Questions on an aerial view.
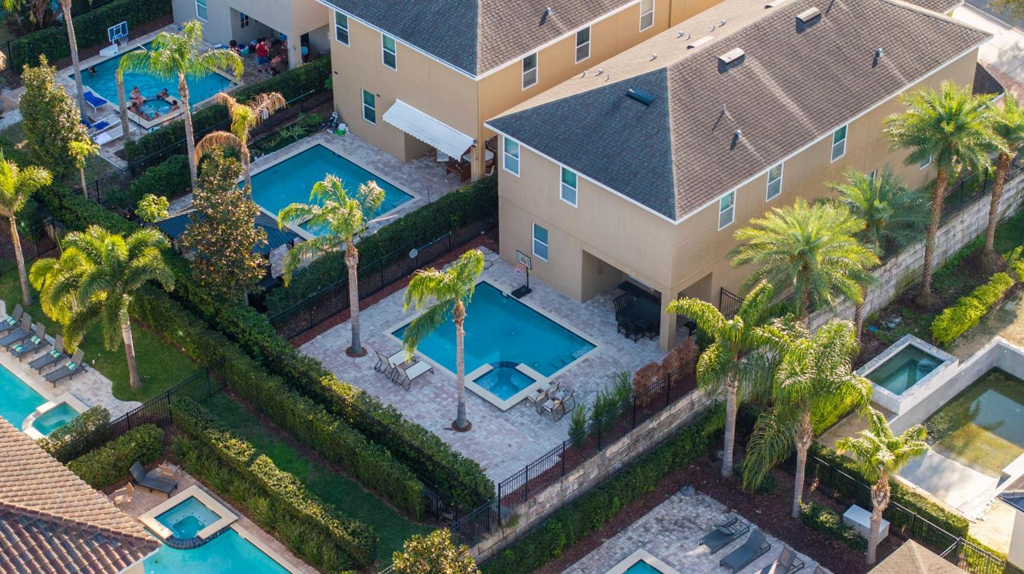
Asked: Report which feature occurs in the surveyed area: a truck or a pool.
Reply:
pool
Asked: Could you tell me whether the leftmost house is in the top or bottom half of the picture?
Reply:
bottom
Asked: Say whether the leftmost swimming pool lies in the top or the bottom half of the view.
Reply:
bottom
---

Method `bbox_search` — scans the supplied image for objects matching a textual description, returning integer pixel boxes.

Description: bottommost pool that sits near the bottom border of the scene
[608,549,680,574]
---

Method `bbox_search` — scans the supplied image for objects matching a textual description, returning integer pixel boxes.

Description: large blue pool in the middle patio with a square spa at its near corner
[380,274,607,410]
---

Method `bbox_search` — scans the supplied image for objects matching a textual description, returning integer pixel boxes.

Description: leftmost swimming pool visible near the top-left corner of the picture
[59,37,241,125]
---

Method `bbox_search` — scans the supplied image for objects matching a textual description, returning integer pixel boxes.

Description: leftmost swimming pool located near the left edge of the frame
[0,355,94,449]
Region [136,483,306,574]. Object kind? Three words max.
swimming pool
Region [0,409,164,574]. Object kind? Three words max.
house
